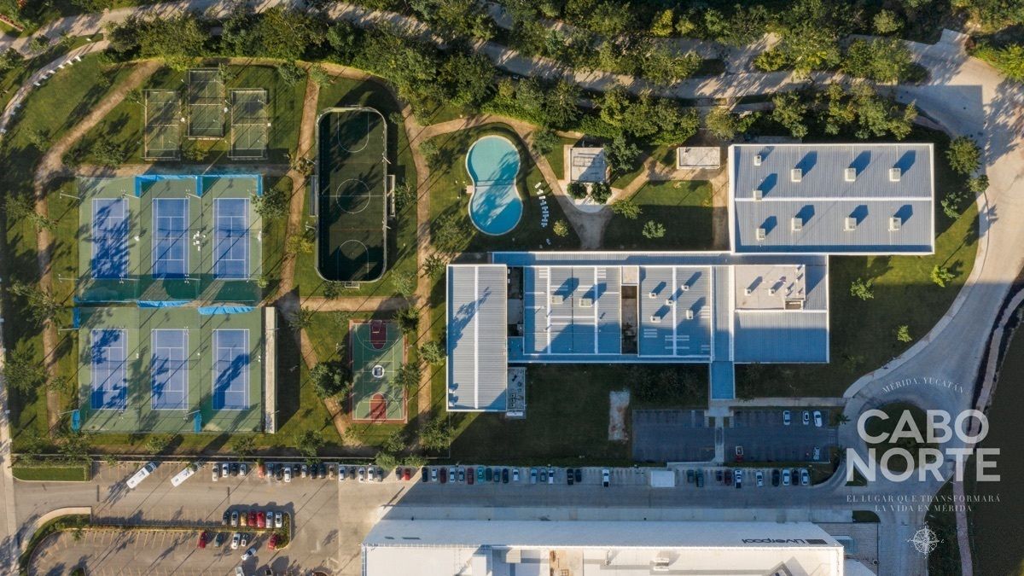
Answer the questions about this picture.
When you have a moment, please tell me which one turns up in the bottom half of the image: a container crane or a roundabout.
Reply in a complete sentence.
What appears in the bottom half of the image is a roundabout.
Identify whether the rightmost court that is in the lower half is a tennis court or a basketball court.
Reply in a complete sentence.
The rightmost court that is in the lower half appears to be a basketball court.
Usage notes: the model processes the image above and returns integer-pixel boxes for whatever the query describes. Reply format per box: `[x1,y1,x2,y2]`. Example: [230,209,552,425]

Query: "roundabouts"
[861,395,943,477]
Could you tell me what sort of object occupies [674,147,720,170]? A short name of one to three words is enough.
building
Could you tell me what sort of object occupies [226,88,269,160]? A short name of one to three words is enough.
sports court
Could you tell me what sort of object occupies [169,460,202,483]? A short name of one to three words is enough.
vehicle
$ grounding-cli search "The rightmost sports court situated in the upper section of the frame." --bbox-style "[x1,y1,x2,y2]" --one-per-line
[314,104,386,290]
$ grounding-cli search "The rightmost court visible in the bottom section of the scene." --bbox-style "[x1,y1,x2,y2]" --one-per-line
[349,320,407,423]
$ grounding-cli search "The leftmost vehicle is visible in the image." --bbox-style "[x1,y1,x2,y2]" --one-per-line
[122,464,155,488]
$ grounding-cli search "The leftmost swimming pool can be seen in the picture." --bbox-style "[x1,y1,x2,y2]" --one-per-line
[466,135,523,236]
